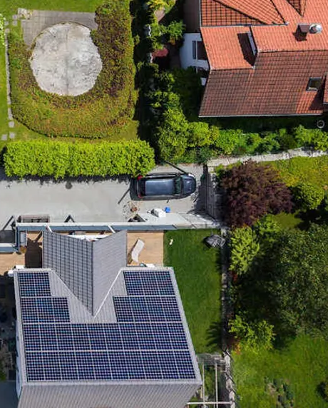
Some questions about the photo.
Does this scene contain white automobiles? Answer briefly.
No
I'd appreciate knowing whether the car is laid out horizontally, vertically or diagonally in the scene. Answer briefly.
horizontally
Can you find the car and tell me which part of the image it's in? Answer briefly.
center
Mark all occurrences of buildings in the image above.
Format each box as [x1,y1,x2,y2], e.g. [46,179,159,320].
[182,0,328,119]
[14,225,201,408]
